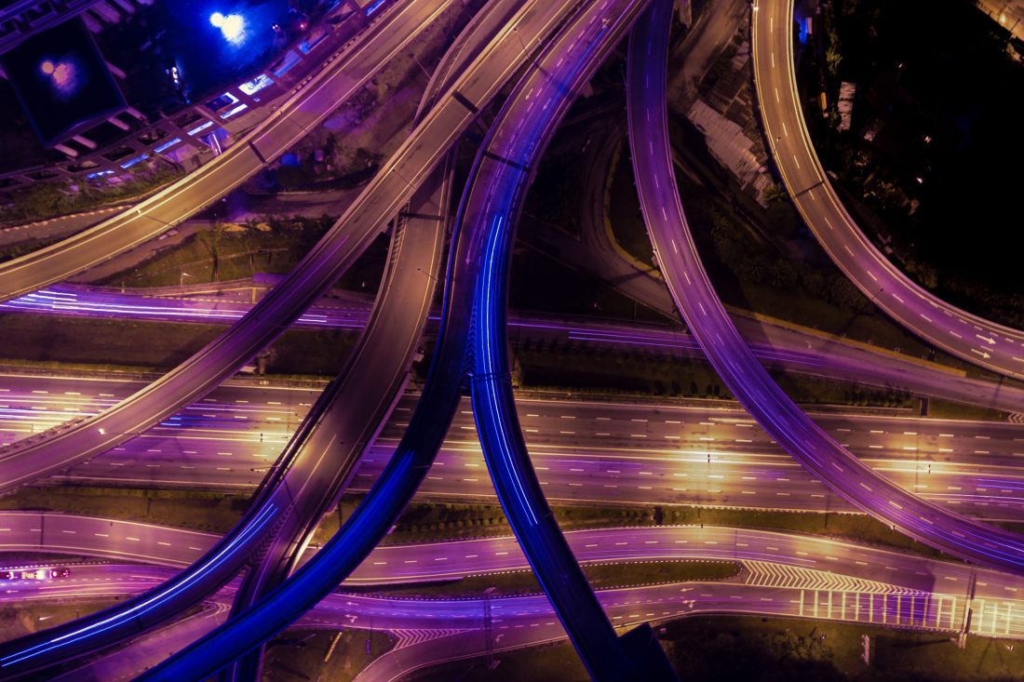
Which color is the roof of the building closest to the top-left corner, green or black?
black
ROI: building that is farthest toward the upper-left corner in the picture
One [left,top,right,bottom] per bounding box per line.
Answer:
[0,14,133,158]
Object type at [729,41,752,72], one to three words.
shed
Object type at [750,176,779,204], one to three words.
shed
